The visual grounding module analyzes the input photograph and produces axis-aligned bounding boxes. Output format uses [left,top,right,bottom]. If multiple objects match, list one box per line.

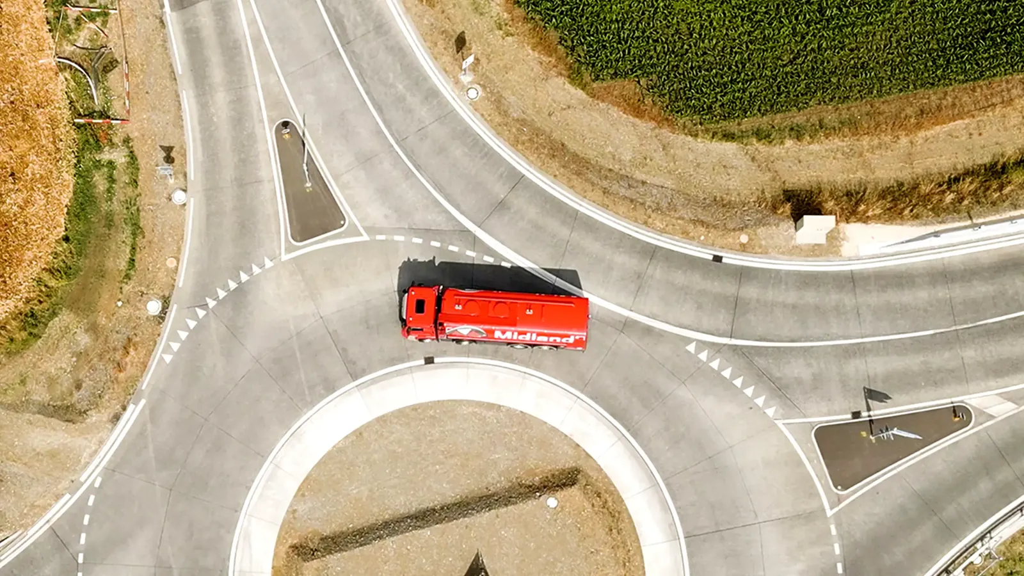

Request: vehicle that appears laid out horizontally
[397,283,591,350]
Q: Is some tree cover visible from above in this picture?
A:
No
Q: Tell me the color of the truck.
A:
red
